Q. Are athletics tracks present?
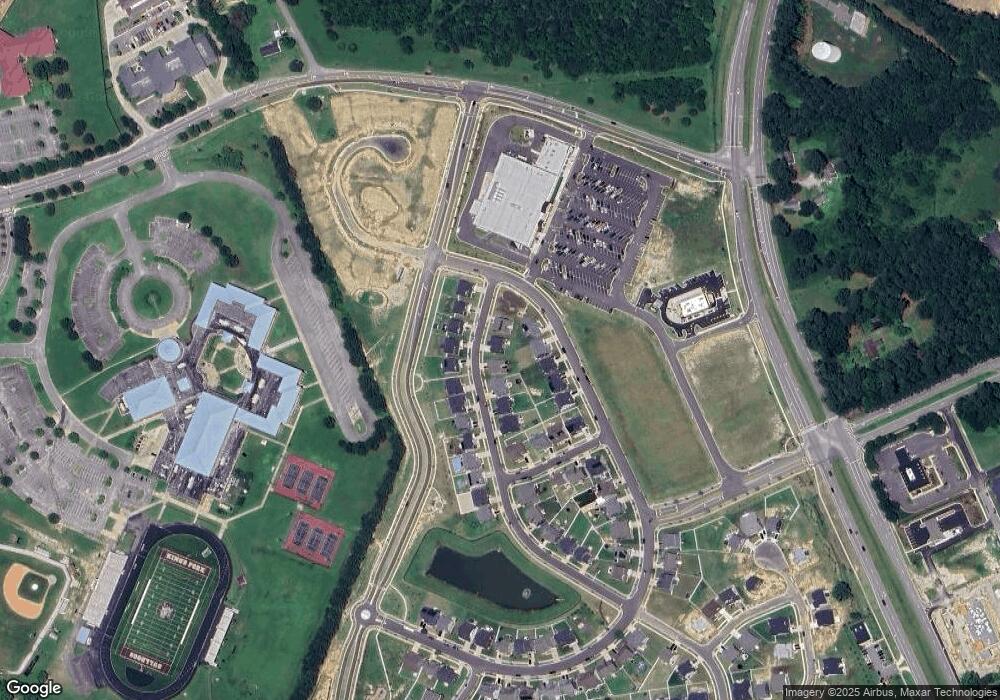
Yes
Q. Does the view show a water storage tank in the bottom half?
No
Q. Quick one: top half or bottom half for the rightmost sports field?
bottom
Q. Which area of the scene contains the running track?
bottom left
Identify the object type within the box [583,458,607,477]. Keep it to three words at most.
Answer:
house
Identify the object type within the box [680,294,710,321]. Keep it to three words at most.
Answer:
building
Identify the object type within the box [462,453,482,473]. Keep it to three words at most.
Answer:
house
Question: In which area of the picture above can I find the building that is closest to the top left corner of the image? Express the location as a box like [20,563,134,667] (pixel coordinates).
[0,27,58,97]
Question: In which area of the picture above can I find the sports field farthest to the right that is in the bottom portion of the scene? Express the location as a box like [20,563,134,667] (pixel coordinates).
[111,533,219,689]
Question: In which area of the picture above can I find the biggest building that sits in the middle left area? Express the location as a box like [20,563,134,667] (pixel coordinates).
[101,283,305,499]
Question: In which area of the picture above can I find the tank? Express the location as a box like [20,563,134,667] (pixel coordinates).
[813,40,841,64]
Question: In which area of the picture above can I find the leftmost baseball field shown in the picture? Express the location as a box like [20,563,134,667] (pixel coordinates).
[0,550,63,668]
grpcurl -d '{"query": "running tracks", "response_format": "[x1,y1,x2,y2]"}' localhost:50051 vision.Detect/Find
[99,513,229,699]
